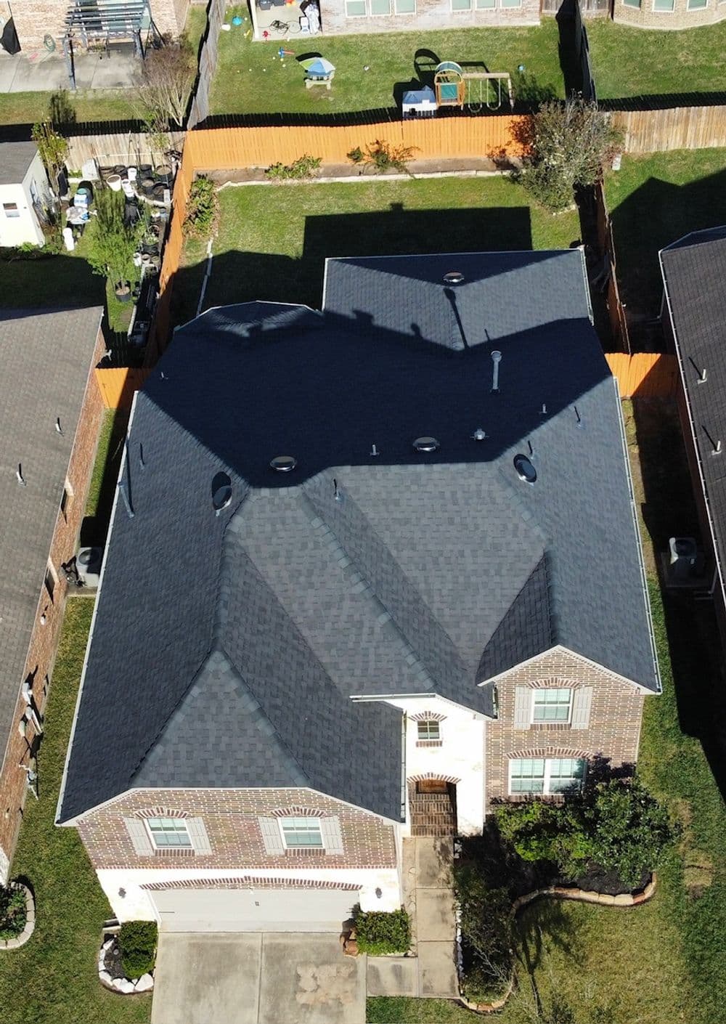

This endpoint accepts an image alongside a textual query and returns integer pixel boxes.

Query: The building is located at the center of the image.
[49,249,666,933]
